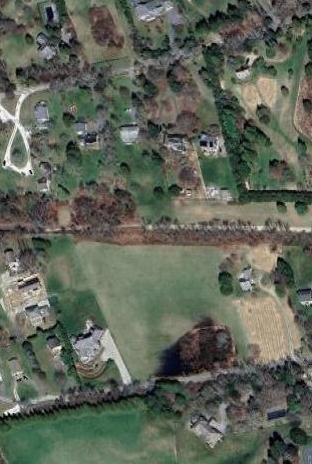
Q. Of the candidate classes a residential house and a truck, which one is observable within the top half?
residential house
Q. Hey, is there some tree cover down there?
Yes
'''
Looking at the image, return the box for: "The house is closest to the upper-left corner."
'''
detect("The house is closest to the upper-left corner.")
[34,29,71,61]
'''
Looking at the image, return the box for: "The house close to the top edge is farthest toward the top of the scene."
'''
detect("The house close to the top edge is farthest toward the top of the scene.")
[129,0,183,24]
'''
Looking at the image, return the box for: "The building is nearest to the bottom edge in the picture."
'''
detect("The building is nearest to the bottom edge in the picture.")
[187,412,224,448]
